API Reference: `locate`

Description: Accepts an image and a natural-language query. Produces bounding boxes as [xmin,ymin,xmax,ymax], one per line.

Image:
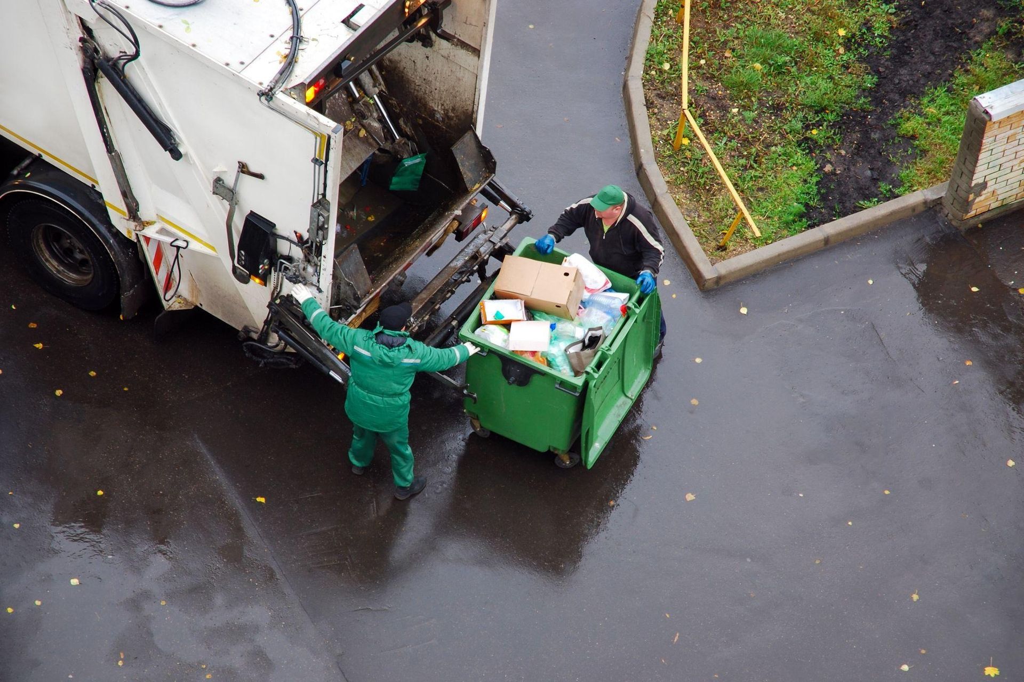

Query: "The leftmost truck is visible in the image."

[0,0,537,406]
